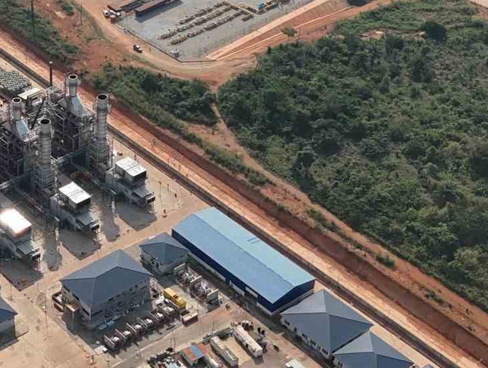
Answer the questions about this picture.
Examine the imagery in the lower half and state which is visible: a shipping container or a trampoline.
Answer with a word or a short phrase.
shipping container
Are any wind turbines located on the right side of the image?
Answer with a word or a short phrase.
No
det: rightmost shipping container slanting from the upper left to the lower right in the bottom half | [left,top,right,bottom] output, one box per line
[160,284,190,313]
